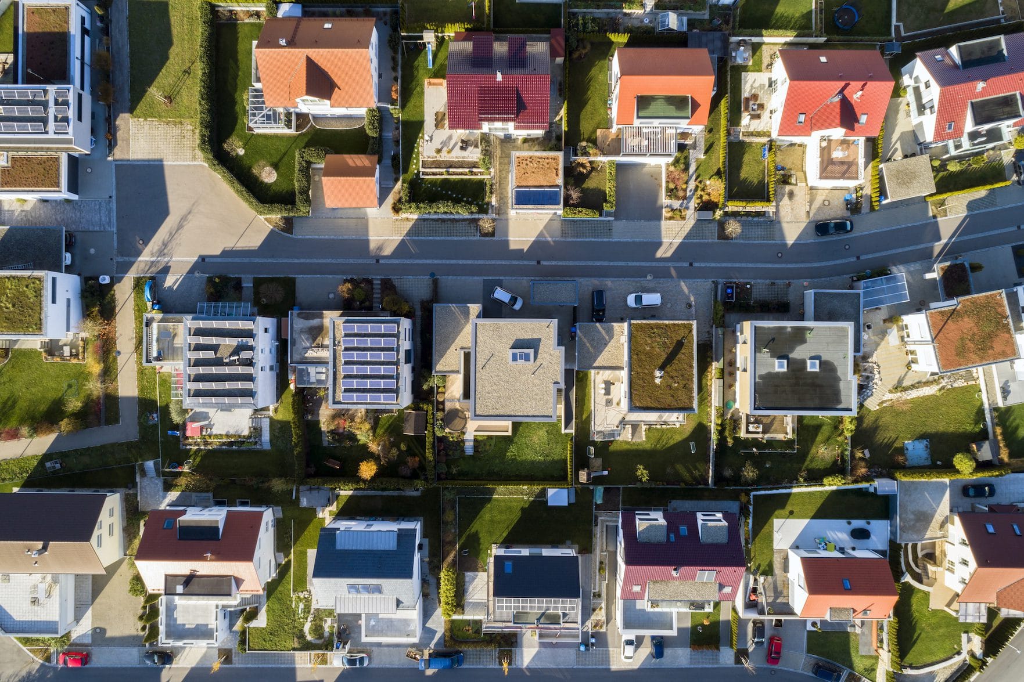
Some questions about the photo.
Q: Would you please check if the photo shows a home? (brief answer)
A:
Yes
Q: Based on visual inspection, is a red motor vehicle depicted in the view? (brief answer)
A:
Yes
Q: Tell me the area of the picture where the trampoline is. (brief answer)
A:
top right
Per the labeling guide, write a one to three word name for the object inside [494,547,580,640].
house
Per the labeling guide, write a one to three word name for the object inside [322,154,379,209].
building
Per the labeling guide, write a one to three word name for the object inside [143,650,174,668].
car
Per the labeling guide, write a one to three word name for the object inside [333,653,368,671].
car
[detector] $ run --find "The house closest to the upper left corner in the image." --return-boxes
[0,0,95,148]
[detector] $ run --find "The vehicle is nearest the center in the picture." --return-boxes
[489,284,524,312]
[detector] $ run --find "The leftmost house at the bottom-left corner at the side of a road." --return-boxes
[0,488,126,637]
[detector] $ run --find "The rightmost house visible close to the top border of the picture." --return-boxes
[893,33,1024,159]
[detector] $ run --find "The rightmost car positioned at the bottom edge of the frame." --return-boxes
[809,660,846,682]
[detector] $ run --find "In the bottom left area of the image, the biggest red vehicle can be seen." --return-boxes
[58,652,89,670]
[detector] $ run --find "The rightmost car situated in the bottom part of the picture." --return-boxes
[961,483,997,500]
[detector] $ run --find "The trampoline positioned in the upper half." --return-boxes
[833,0,863,31]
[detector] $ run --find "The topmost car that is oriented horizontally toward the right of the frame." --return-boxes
[815,218,854,235]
